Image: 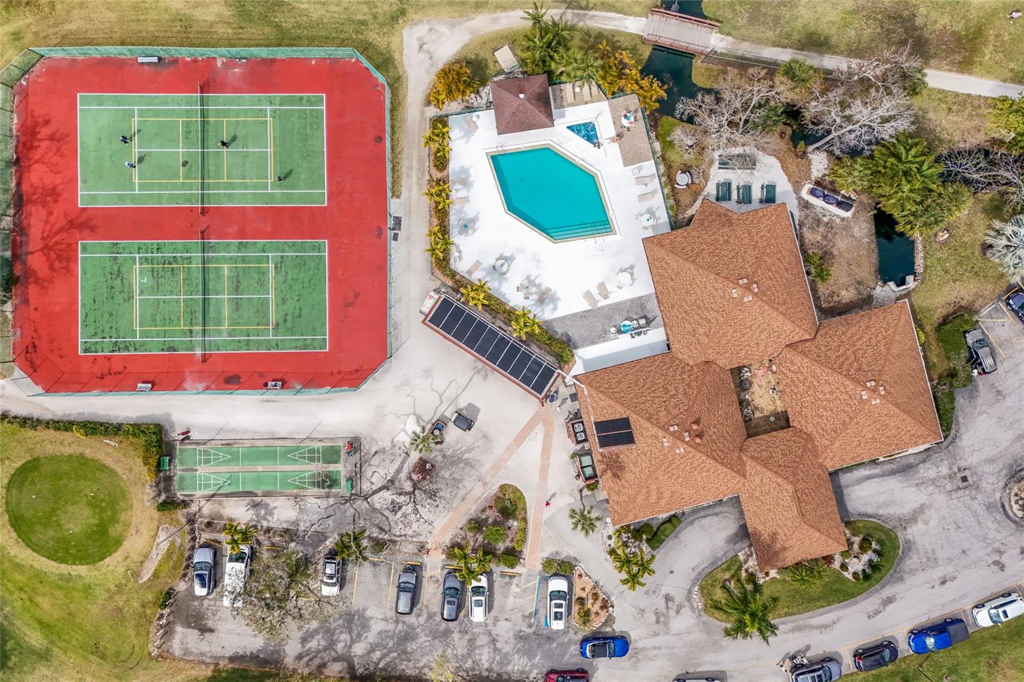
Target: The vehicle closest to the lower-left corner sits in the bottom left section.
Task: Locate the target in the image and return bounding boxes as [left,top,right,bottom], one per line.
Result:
[191,545,218,598]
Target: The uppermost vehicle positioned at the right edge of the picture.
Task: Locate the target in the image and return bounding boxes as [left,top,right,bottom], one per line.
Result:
[996,283,1024,331]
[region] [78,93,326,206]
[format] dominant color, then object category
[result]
green tennis court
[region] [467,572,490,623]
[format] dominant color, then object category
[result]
white car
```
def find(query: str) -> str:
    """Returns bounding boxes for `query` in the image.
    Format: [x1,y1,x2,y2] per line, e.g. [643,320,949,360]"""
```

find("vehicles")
[191,545,218,598]
[961,326,1000,376]
[907,617,971,653]
[467,572,490,623]
[996,283,1024,331]
[439,569,463,622]
[449,410,475,434]
[786,654,840,682]
[850,637,897,670]
[971,591,1024,627]
[579,633,628,660]
[546,575,570,631]
[222,544,253,608]
[318,551,342,596]
[394,564,418,617]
